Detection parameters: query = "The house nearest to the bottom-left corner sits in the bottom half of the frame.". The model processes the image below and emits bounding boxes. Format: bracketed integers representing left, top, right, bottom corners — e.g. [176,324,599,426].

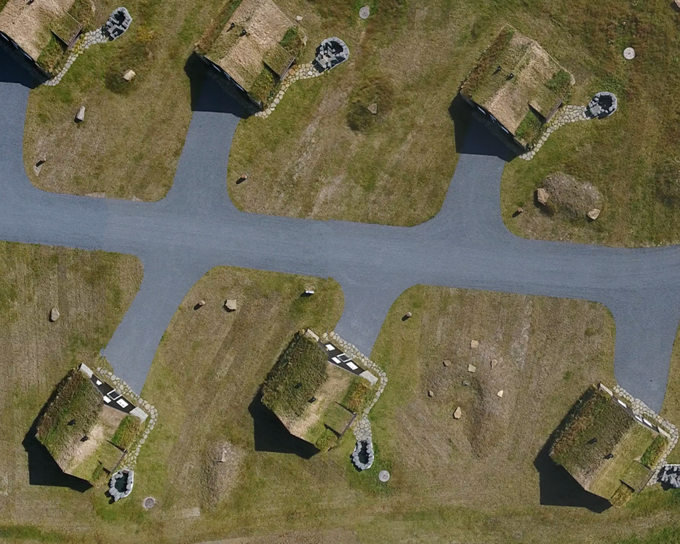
[32,359,151,490]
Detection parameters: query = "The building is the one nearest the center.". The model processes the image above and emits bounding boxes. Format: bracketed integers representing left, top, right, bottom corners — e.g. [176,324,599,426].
[258,324,378,455]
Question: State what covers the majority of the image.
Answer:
grass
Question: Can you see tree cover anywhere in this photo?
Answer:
No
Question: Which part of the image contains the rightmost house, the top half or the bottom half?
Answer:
bottom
